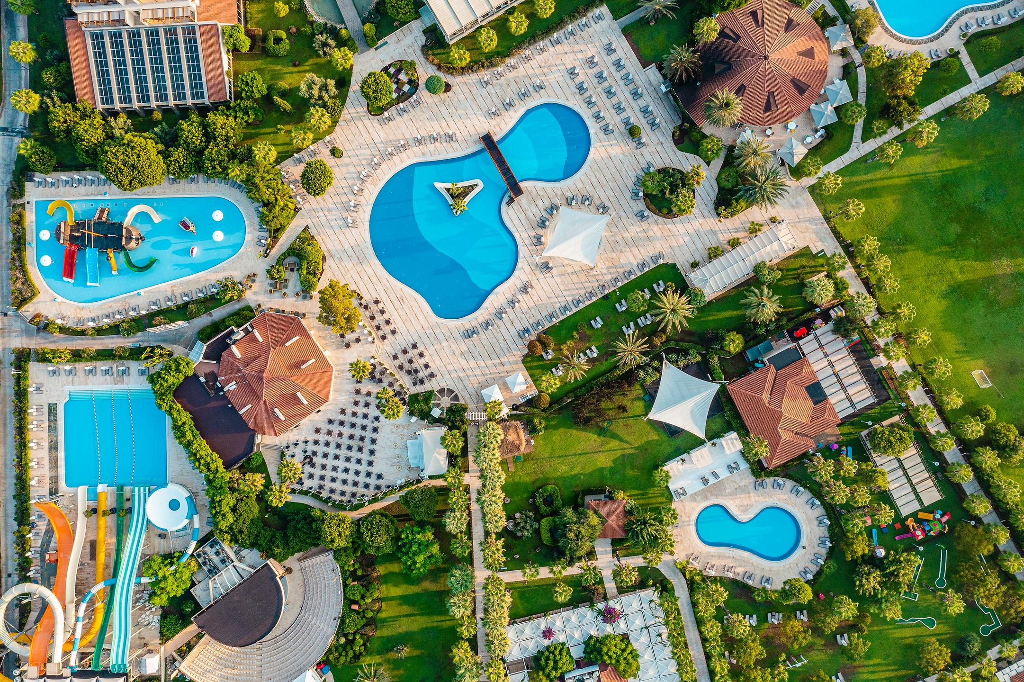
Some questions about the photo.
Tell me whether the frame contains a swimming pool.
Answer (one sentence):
Yes, you can see a swimming pool in this photo.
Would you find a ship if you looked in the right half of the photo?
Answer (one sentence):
No, looking in the right half of the photo, there is no ship.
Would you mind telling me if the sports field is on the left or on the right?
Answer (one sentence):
The sports field is on the right side of the image.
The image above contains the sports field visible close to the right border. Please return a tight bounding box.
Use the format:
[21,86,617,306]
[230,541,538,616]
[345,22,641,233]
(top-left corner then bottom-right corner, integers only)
[814,70,1024,556]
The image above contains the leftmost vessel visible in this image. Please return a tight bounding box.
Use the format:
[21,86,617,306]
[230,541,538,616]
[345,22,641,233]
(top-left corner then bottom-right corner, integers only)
[52,208,147,252]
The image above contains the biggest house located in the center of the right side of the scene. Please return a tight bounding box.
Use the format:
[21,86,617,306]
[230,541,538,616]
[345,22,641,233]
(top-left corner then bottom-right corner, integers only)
[726,342,842,470]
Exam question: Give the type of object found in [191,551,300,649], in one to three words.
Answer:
building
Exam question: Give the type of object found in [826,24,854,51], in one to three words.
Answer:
umbrella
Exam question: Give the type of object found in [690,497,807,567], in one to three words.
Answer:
swimming pool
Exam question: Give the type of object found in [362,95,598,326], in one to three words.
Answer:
swimming pool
